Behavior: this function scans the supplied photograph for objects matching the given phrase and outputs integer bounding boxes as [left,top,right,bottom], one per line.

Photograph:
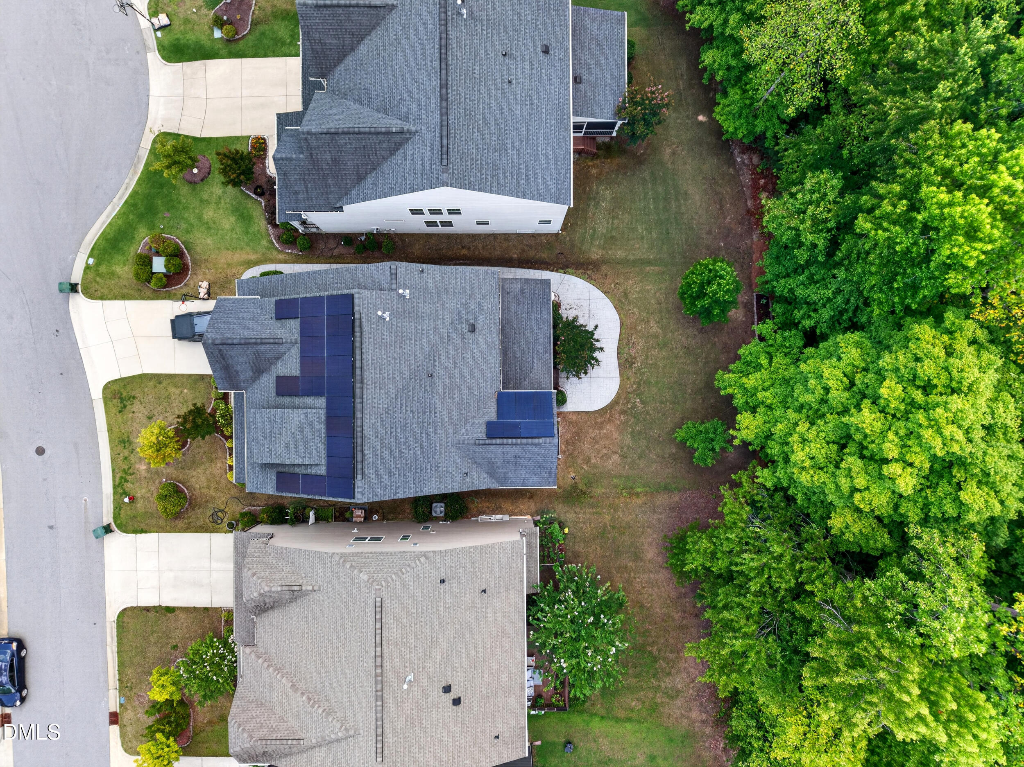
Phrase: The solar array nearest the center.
[485,391,556,437]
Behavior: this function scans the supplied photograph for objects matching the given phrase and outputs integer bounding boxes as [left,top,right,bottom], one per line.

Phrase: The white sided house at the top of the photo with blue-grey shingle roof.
[273,0,627,241]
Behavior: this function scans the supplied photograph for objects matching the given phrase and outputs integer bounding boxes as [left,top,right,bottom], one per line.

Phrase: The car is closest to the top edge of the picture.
[170,312,212,345]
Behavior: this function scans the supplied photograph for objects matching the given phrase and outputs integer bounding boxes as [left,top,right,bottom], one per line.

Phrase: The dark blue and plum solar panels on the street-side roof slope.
[273,294,354,499]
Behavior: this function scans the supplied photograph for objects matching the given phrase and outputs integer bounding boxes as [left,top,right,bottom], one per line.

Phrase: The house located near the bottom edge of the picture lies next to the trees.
[227,521,541,767]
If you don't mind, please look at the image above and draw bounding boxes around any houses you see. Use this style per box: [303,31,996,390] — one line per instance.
[227,521,541,767]
[202,261,558,502]
[273,0,627,241]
